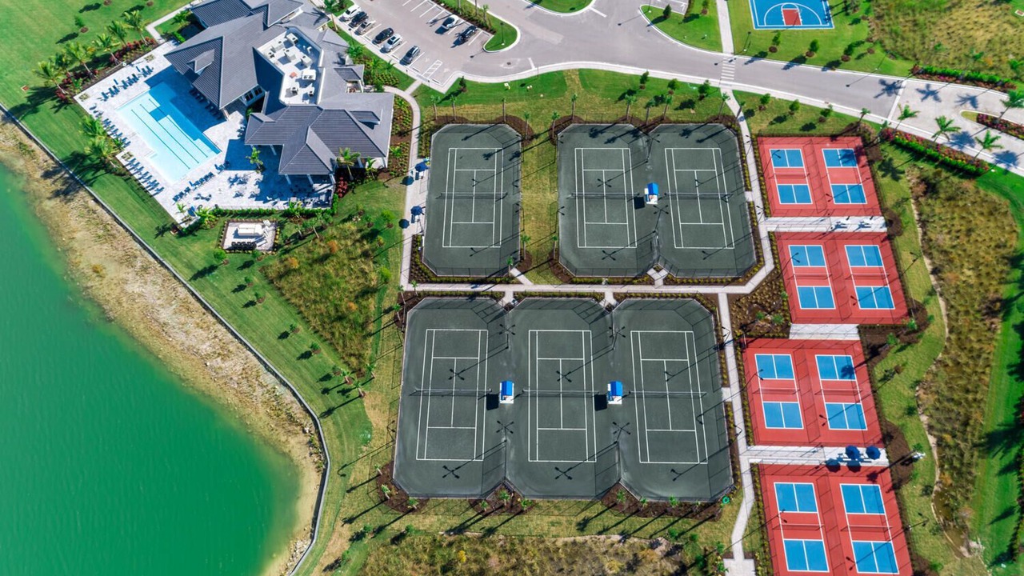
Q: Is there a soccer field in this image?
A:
No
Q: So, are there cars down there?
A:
Yes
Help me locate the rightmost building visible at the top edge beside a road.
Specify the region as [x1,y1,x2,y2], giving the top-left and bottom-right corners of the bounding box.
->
[164,0,395,186]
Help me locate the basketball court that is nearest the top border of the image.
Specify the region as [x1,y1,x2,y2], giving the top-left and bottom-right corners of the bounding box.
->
[749,0,835,29]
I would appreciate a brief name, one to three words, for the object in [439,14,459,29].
car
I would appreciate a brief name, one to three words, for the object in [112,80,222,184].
swimming pool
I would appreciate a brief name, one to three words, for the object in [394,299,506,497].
tennis court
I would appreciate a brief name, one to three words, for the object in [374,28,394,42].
car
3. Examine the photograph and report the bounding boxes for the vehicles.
[458,25,476,41]
[374,28,394,42]
[356,19,377,34]
[382,34,403,51]
[439,14,459,29]
[402,45,421,63]
[350,10,370,27]
[341,4,361,20]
